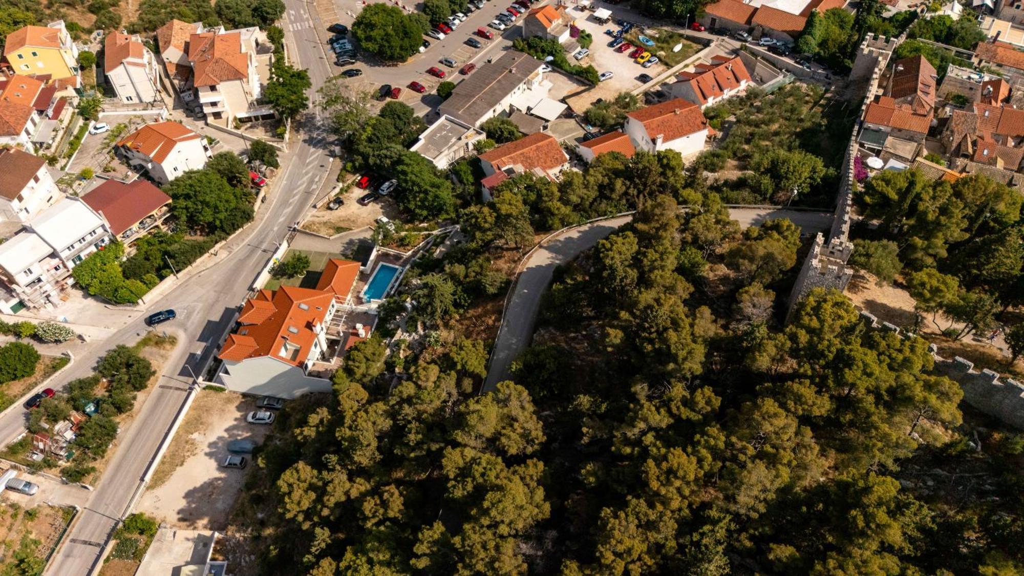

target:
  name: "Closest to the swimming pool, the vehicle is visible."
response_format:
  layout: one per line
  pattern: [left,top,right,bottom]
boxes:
[376,214,395,233]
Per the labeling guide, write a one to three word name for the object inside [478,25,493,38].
vehicle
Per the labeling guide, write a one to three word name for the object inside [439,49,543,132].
building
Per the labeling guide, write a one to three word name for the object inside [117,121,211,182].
house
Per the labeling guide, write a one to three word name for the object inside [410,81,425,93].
vehicle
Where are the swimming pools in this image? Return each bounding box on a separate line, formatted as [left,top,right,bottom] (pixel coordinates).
[362,262,403,302]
